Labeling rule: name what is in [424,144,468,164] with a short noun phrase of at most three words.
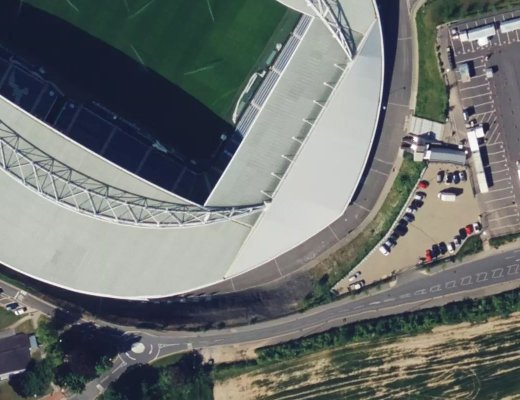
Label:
building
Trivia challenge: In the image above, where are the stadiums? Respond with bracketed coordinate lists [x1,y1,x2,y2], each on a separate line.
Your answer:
[0,0,384,299]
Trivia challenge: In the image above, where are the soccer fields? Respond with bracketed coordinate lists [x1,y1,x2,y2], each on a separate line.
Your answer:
[0,0,303,126]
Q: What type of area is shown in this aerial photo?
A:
sports ground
